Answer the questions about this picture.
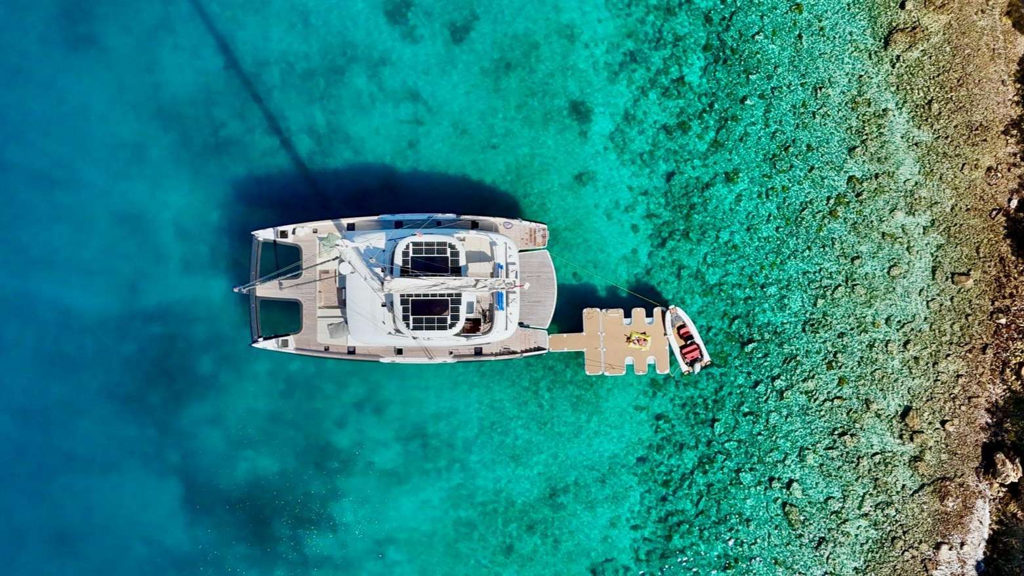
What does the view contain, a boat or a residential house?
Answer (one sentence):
Of the two, only a boat appears.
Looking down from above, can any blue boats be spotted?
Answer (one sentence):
No, no blue boat is visible in the view.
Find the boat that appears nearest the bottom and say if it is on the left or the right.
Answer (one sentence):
The boat that appears nearest the bottom appears in the right half of the scene.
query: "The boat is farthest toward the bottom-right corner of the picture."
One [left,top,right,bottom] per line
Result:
[665,305,712,374]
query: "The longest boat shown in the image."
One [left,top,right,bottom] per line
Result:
[232,214,556,363]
